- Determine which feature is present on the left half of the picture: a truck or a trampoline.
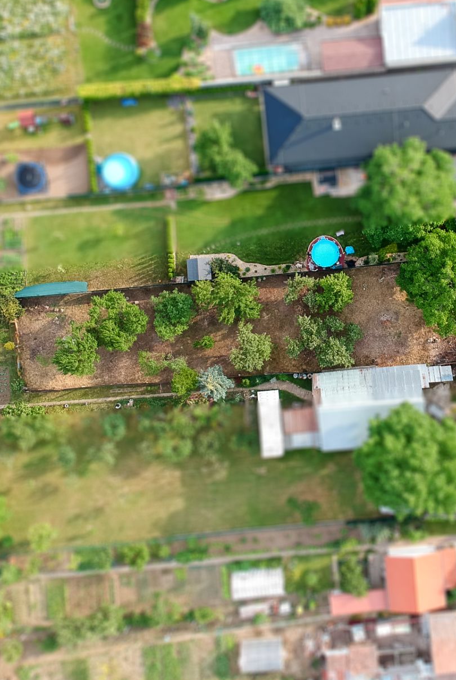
trampoline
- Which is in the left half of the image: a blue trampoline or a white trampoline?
blue trampoline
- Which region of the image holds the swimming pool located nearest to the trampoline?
top left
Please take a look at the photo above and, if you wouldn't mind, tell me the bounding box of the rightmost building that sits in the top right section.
[380,0,456,71]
